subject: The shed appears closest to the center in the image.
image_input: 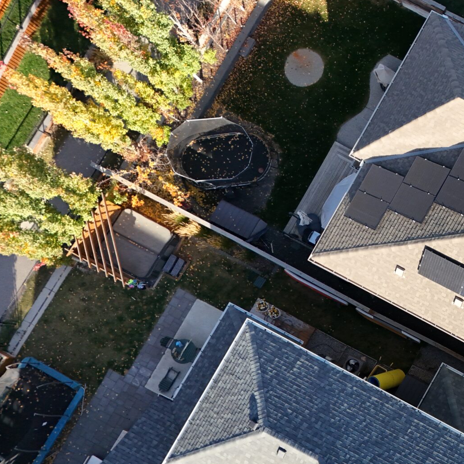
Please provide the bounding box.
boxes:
[212,197,268,243]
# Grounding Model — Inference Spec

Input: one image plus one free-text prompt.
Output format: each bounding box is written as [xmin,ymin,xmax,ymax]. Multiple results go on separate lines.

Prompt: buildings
[306,8,464,345]
[111,301,464,464]
[212,197,268,243]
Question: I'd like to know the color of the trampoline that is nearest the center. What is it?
black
